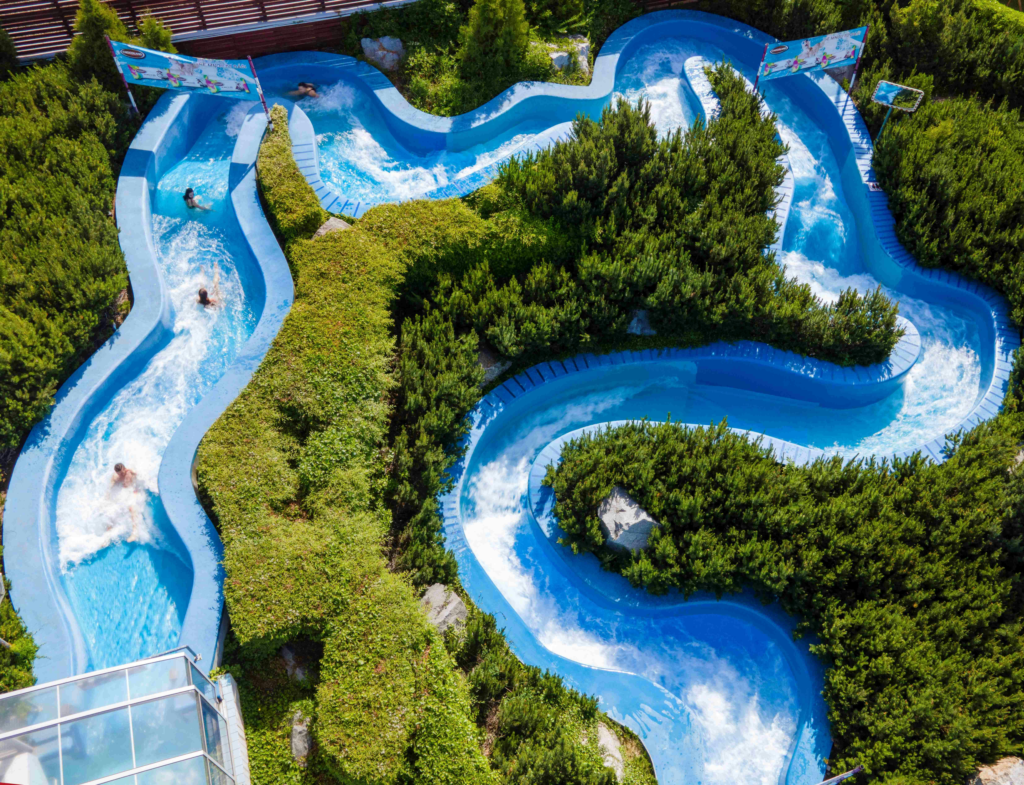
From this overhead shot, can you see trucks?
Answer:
No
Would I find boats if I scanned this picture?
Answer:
No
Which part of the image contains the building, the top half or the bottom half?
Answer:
bottom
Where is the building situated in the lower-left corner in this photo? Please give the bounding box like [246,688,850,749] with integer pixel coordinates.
[0,651,237,785]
